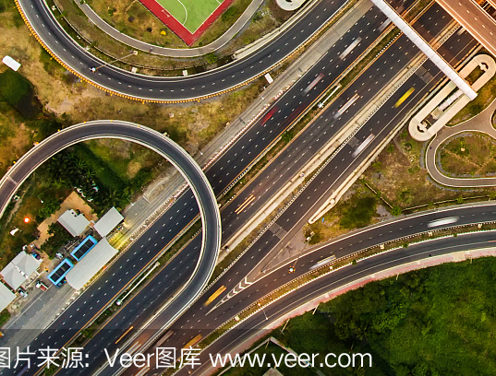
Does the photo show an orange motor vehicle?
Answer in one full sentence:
Yes, this view includes an orange motor vehicle.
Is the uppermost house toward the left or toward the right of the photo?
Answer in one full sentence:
The uppermost house appears in the left half of the scene.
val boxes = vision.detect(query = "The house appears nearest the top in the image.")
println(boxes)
[58,207,94,237]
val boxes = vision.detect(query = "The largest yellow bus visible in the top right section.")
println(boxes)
[392,85,416,109]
